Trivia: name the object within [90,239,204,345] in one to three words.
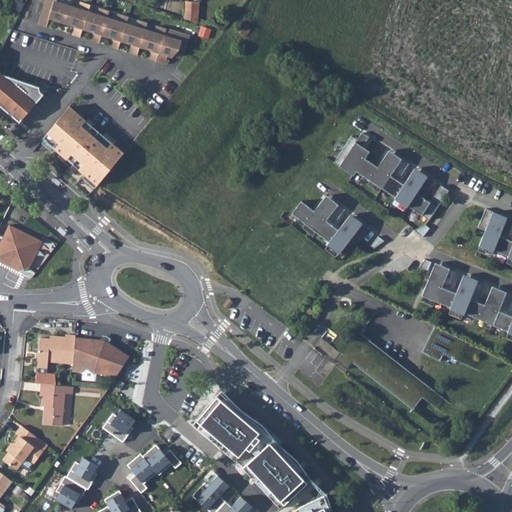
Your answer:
roundabout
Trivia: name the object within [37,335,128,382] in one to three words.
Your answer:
house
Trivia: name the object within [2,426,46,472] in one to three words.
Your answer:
house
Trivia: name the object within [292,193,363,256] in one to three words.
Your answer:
building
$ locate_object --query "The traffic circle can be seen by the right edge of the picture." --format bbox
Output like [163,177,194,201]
[381,469,512,512]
